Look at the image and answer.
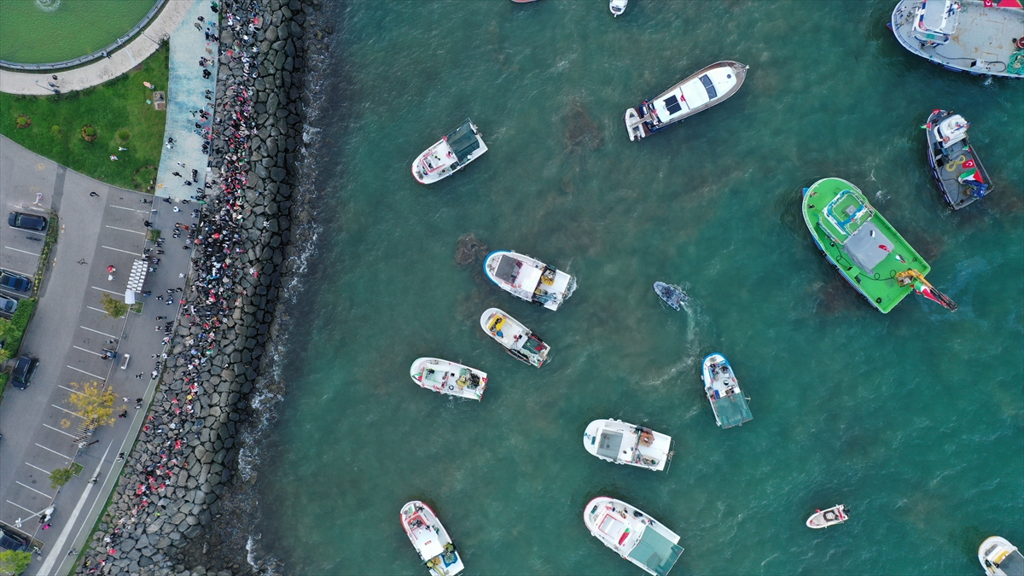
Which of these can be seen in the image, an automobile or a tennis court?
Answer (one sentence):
The image shows an automobile.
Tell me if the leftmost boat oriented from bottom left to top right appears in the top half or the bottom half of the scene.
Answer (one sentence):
You can find the leftmost boat oriented from bottom left to top right in the top half.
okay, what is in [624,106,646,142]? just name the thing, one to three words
boat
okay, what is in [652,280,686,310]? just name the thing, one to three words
boat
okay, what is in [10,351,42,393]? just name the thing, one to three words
car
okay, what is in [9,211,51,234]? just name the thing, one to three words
car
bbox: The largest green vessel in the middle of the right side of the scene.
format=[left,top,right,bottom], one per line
[798,177,953,314]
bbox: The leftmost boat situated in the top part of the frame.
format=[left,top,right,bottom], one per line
[411,118,488,185]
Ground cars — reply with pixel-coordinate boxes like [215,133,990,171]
[9,211,51,234]
[10,351,42,393]
[0,270,37,293]
[0,295,25,316]
[0,524,32,554]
